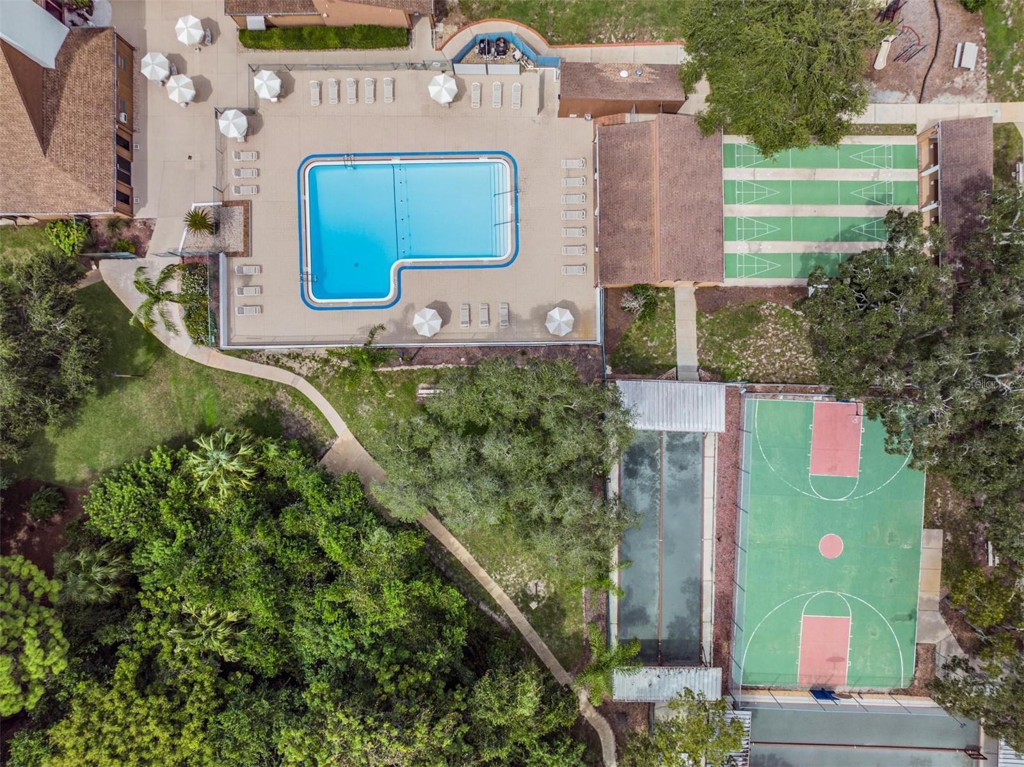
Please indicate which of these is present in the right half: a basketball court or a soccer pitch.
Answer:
basketball court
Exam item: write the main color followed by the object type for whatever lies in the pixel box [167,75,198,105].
white umbrella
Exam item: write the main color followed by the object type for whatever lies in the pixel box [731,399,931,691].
green basketball court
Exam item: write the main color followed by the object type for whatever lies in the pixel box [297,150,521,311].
blue swimming pool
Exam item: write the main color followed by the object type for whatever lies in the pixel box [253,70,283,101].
white umbrella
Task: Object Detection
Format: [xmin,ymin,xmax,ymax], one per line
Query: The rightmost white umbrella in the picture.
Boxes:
[544,307,574,337]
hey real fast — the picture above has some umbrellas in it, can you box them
[544,307,574,337]
[176,16,207,47]
[142,53,173,84]
[428,75,458,105]
[167,75,198,105]
[253,70,283,101]
[413,307,443,337]
[219,110,249,140]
